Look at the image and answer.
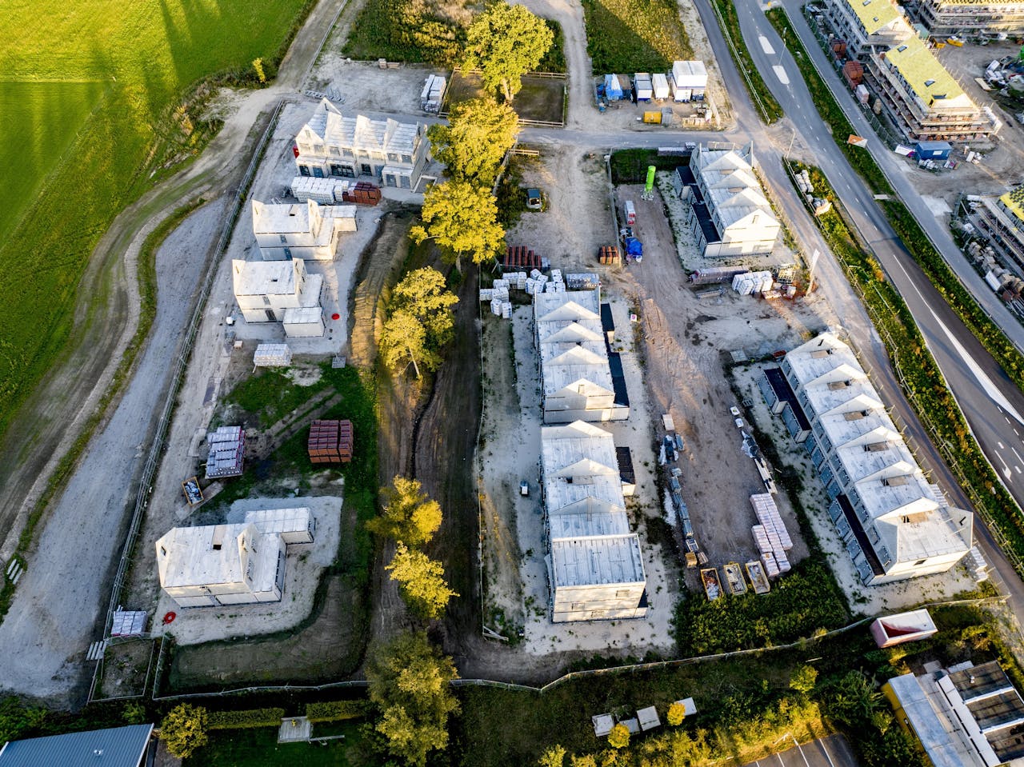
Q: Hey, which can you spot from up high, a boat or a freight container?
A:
freight container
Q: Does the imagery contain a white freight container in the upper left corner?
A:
No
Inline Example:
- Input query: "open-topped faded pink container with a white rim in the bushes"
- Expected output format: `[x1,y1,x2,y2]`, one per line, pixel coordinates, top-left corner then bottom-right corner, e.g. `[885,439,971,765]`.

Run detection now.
[870,611,939,648]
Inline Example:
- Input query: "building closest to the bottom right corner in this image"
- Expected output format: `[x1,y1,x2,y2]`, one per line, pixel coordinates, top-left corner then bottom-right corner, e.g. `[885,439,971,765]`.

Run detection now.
[877,662,1024,767]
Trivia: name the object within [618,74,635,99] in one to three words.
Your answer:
shed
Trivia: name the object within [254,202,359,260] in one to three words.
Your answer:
house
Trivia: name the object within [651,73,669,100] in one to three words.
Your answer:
building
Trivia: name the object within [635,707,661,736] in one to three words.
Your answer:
shed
